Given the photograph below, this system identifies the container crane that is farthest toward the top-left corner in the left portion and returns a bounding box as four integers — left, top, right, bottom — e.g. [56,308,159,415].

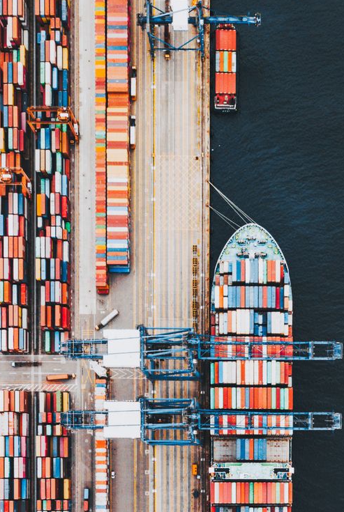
[27,106,78,141]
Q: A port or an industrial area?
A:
port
